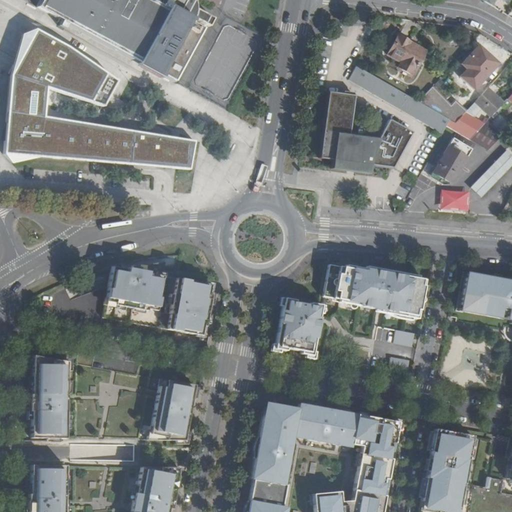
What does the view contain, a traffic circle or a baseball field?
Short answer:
traffic circle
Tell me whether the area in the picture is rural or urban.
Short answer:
urban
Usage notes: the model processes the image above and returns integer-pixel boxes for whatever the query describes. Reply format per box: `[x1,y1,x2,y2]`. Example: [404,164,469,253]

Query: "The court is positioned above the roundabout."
[194,24,255,101]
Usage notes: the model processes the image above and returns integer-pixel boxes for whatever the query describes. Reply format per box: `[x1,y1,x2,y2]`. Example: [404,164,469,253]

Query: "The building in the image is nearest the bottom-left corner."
[28,462,70,512]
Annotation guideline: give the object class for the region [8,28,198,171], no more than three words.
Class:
building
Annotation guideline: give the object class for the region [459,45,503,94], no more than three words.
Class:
house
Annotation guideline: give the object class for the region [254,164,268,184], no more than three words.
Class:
vehicle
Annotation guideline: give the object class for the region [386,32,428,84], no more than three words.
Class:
house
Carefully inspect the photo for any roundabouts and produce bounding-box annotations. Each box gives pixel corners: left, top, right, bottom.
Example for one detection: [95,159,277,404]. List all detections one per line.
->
[218,198,301,280]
